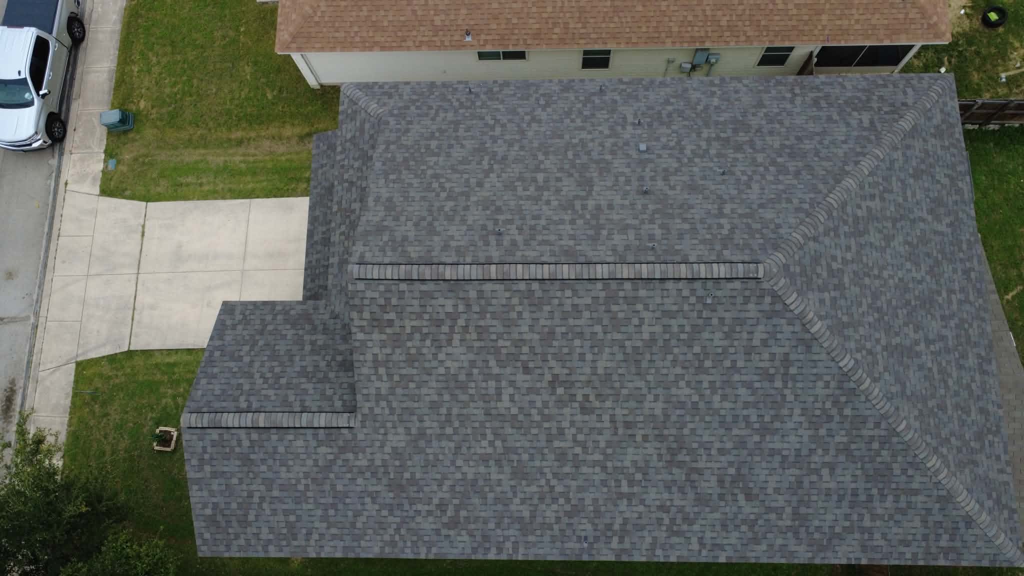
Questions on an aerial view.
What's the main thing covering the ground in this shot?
buildings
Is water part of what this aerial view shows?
No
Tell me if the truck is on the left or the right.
left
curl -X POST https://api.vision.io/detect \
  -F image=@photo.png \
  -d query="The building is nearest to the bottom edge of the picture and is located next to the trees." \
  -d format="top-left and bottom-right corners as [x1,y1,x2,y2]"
[181,72,1024,570]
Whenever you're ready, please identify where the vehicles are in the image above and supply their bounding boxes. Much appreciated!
[0,0,83,157]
